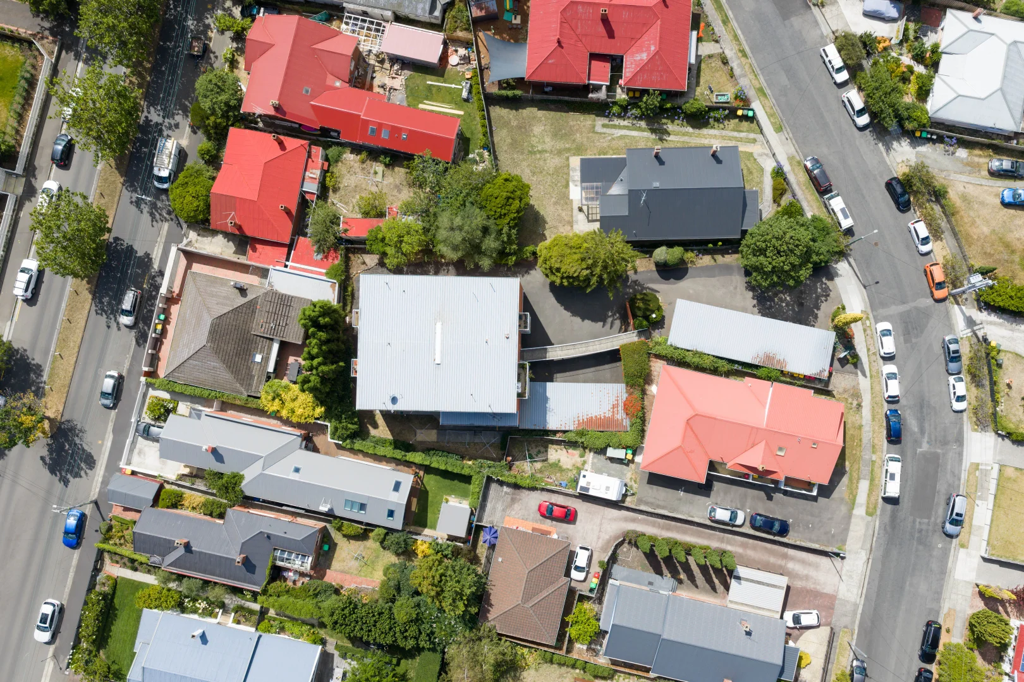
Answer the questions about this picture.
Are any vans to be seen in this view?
Yes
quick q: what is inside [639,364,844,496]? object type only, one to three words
house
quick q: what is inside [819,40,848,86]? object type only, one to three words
vehicle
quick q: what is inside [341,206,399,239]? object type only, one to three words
shed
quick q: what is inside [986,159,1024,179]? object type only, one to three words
car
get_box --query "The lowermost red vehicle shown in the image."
[537,501,577,521]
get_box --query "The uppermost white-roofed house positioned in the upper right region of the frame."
[923,5,1024,138]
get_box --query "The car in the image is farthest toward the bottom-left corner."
[35,597,62,645]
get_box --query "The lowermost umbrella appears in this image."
[479,525,498,546]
